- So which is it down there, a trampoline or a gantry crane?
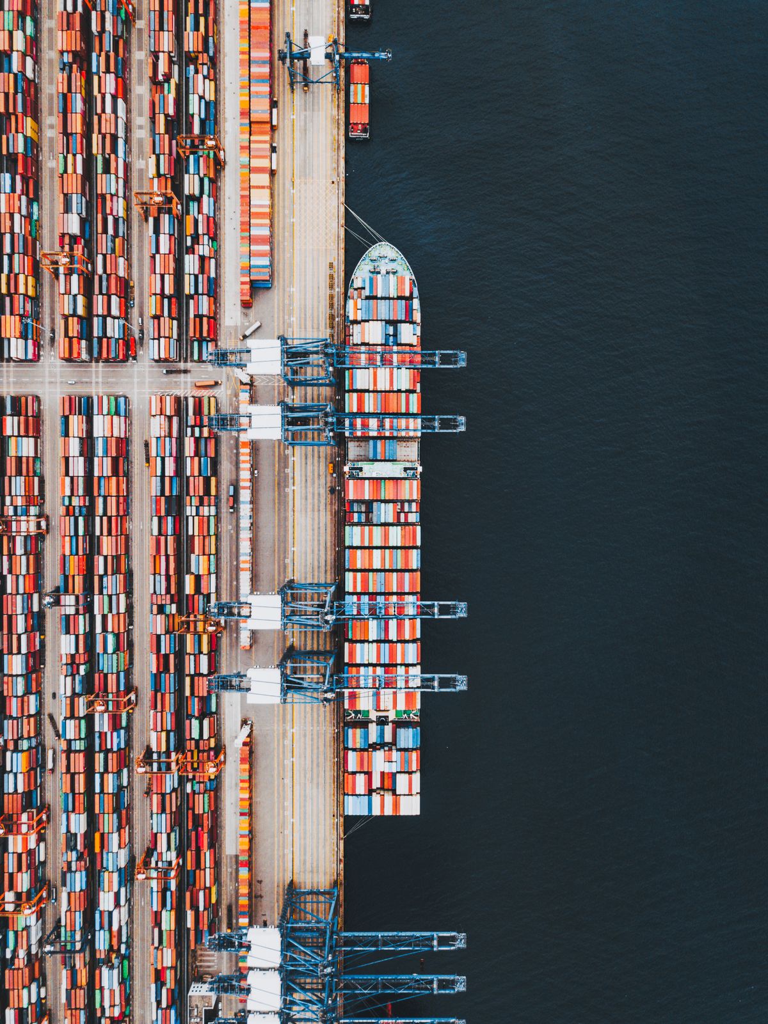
gantry crane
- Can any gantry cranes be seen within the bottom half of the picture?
Yes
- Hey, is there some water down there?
Yes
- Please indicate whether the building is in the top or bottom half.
bottom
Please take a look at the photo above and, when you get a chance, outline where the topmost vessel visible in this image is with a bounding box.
[351,0,373,26]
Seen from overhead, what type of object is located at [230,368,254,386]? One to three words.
work vehicle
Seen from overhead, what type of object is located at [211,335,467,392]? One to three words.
container crane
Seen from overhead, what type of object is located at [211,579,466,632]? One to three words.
container crane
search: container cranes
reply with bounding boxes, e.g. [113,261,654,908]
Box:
[135,847,185,883]
[211,646,466,705]
[0,804,50,839]
[213,969,464,1024]
[212,924,464,1023]
[41,250,90,277]
[211,579,466,632]
[279,24,389,89]
[83,0,133,22]
[211,400,467,451]
[179,746,224,776]
[177,134,224,166]
[0,514,48,534]
[134,189,182,219]
[135,747,184,776]
[87,688,136,715]
[212,883,465,976]
[0,998,50,1024]
[42,587,88,609]
[211,335,467,392]
[41,918,90,955]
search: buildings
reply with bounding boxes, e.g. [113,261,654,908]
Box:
[188,983,217,1024]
